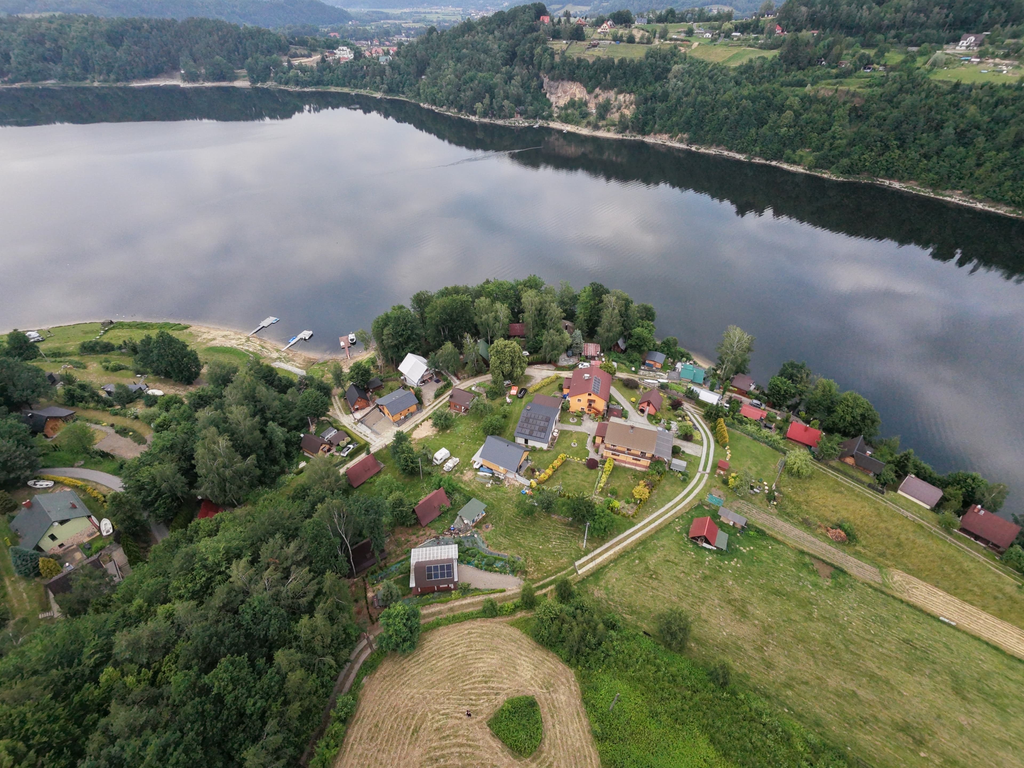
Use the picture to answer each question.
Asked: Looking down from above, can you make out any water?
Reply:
Yes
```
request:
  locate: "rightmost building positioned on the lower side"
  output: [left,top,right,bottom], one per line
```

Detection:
[958,501,1017,552]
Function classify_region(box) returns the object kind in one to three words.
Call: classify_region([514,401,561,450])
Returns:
house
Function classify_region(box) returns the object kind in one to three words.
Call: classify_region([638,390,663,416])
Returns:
shed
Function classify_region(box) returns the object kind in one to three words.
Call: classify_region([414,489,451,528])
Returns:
building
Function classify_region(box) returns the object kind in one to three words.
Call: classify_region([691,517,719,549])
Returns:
barn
